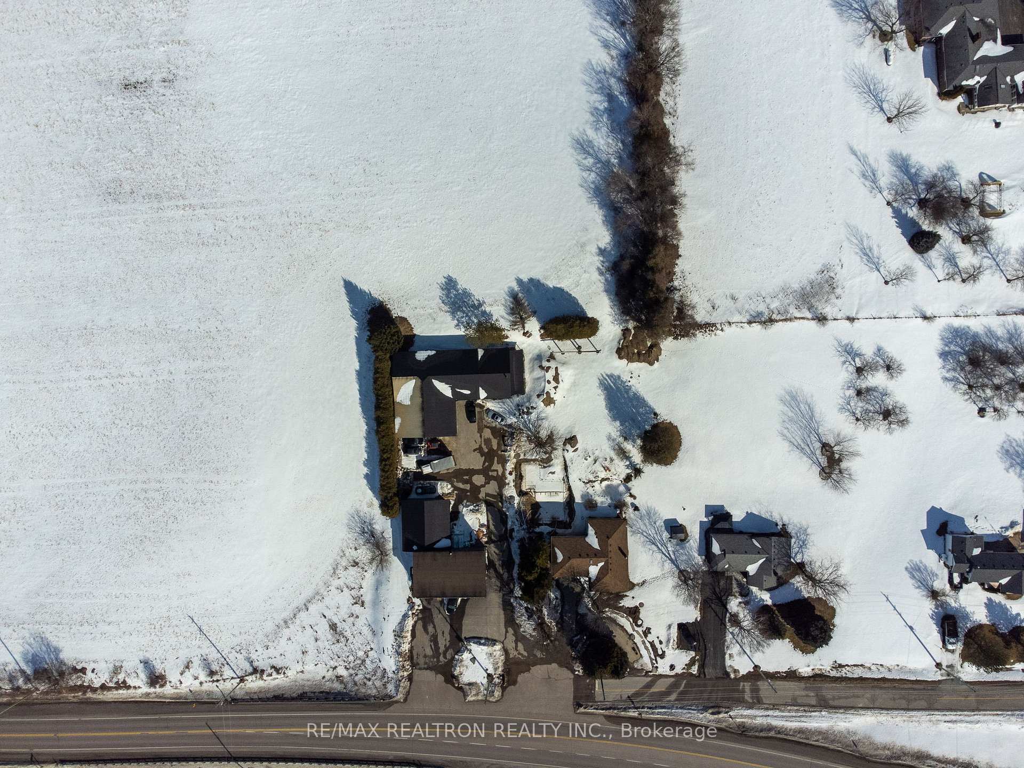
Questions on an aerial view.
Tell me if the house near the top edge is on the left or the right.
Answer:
right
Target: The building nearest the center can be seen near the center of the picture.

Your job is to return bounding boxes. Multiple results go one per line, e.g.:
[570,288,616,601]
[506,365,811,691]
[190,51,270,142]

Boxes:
[392,348,525,438]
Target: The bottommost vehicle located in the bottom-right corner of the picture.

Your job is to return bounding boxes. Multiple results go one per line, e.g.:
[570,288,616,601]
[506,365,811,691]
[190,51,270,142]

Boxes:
[944,617,961,650]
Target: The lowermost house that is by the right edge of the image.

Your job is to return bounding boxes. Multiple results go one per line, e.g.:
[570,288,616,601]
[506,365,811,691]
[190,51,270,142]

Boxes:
[937,532,1024,594]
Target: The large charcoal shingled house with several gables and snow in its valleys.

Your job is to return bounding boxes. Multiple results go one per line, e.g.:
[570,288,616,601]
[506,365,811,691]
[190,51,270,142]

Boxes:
[915,0,1024,111]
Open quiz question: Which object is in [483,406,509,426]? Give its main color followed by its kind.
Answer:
gray car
